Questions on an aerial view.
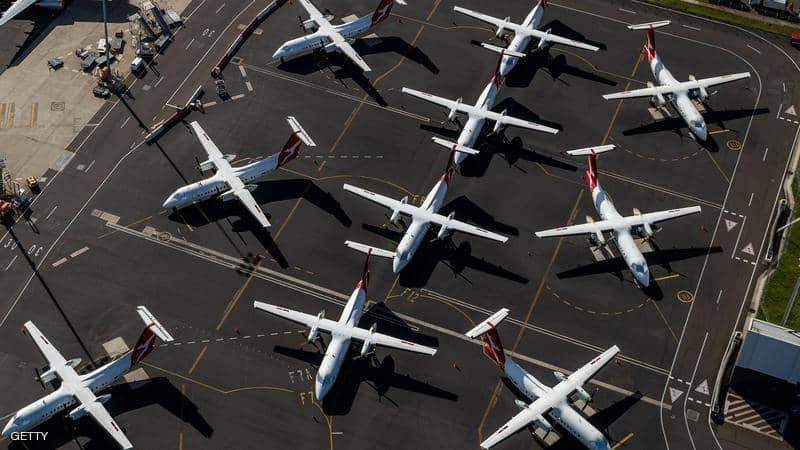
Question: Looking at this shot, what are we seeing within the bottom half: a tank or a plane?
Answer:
plane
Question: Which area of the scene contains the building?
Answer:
bottom right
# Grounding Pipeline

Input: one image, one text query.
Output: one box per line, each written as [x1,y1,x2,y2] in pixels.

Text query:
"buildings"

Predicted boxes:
[730,318,800,413]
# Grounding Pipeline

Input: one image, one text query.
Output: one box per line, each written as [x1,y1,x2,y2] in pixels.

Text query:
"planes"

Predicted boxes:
[466,309,621,450]
[342,136,508,272]
[401,41,558,162]
[537,144,702,284]
[0,0,66,20]
[162,116,316,227]
[272,0,408,70]
[605,20,751,138]
[454,0,598,74]
[252,240,437,398]
[2,305,175,448]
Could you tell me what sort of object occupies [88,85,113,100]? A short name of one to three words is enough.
car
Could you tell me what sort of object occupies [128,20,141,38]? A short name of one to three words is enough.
vehicle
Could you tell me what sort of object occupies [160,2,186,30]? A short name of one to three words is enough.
truck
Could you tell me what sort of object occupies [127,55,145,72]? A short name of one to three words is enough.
vehicle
